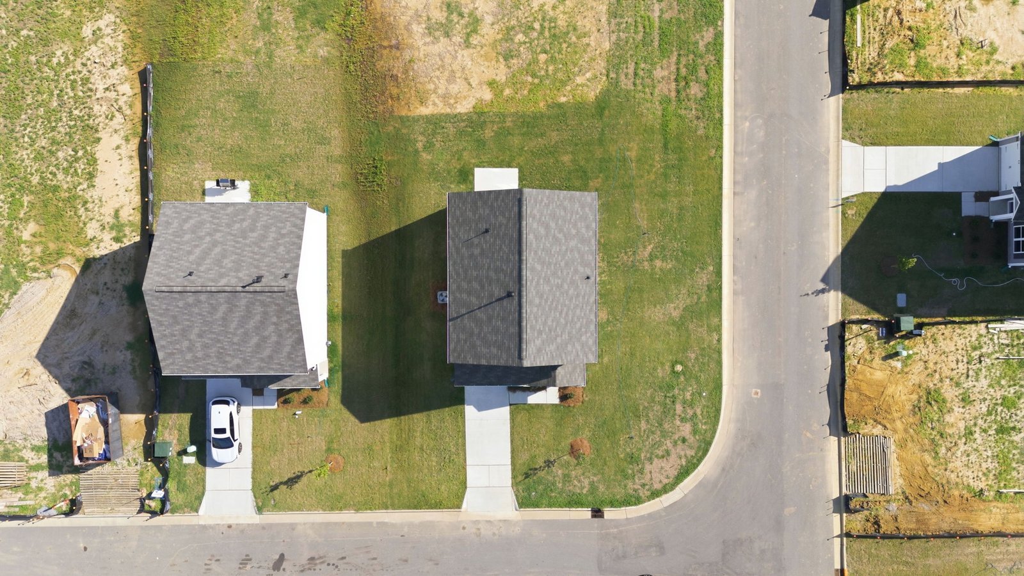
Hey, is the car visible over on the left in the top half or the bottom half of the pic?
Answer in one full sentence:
The bottom half of the photo is where the car visible over on the left is.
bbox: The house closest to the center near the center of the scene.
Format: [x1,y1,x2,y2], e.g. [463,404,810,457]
[446,188,599,388]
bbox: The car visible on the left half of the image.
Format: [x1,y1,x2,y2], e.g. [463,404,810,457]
[207,396,243,463]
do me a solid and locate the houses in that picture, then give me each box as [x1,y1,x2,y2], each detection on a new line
[446,188,599,388]
[988,130,1024,265]
[142,200,328,389]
